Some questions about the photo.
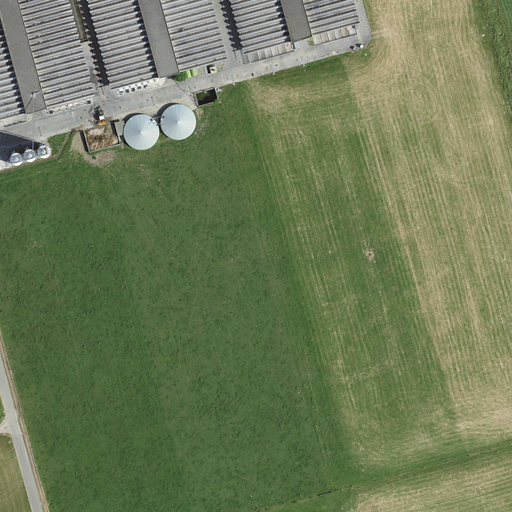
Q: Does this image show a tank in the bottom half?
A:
No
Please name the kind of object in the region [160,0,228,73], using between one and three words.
barn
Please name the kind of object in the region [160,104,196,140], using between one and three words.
storage tank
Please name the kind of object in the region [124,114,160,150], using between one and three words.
storage tank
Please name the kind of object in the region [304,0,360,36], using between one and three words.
barn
